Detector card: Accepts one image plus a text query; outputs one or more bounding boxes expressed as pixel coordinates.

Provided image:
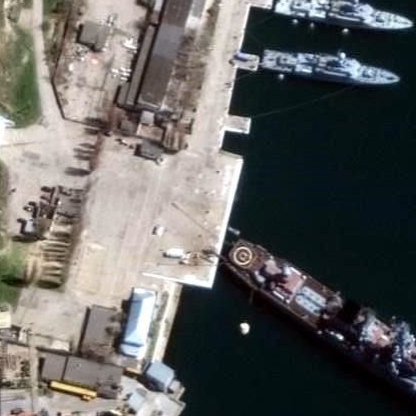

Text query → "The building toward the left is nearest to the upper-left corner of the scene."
[80,23,110,53]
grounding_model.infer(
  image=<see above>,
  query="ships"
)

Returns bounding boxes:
[260,51,400,84]
[273,0,413,29]
[224,239,416,394]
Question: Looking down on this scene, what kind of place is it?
port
